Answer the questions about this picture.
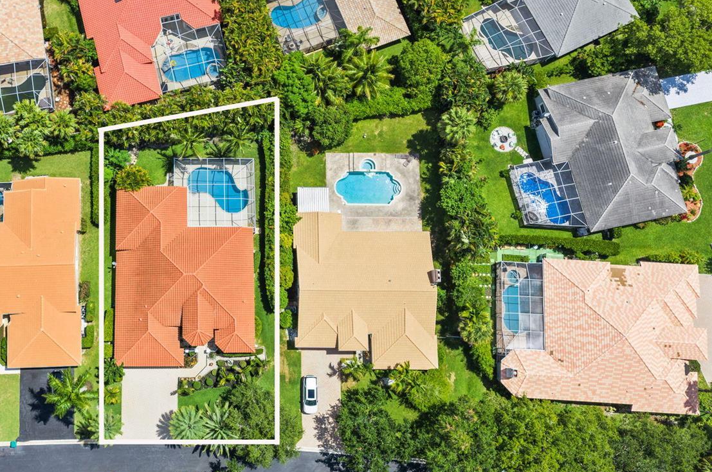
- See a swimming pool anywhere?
Yes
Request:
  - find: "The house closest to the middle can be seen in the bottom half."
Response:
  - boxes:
[293,212,442,370]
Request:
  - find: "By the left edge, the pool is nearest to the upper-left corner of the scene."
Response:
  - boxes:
[0,70,50,114]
